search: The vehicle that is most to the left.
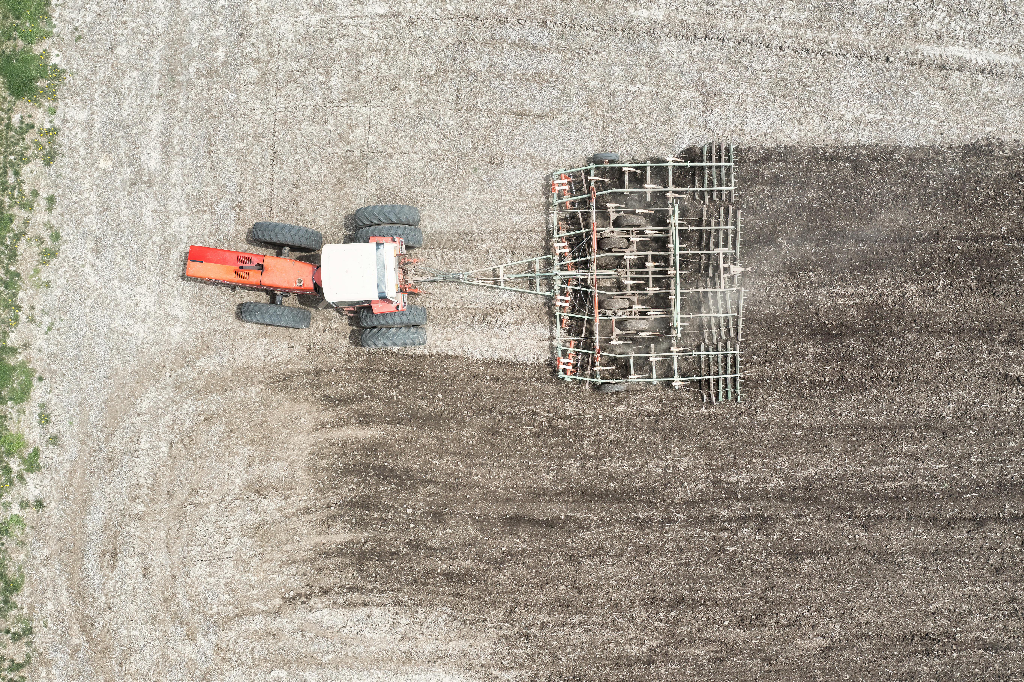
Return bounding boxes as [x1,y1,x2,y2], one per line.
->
[187,205,429,349]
